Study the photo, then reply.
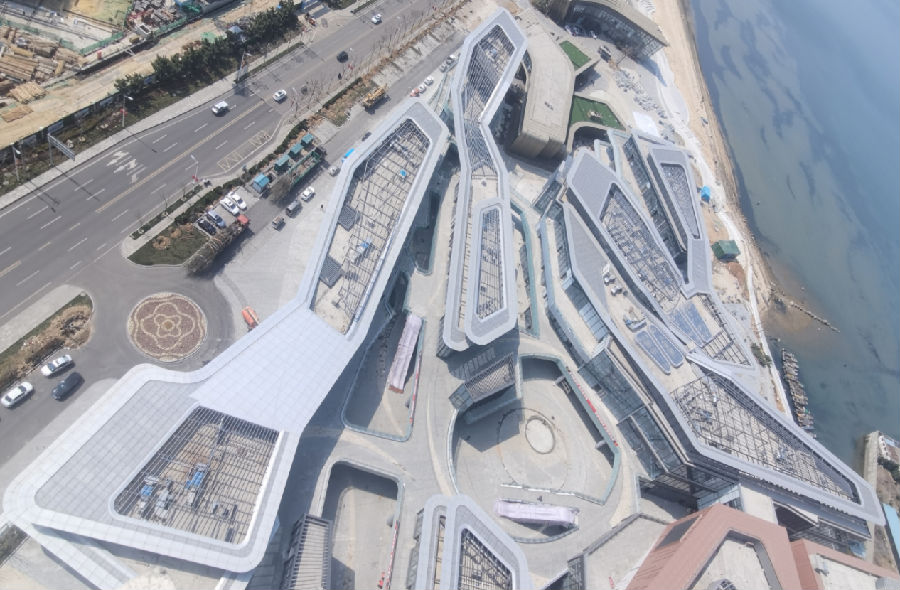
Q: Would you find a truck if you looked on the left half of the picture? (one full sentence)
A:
Yes, a truck appears on the left half of the picture.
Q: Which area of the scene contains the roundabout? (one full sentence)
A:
Look in the left portion of the view to spot the roundabout.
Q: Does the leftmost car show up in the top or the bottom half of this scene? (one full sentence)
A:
You can find the leftmost car in the bottom half.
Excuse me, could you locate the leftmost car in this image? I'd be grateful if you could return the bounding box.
[0,382,36,405]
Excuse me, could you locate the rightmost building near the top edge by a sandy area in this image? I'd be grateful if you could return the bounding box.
[561,0,669,62]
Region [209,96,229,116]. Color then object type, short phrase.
white car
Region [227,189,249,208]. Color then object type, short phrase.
white car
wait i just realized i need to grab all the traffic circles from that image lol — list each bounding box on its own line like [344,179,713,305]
[127,294,206,361]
